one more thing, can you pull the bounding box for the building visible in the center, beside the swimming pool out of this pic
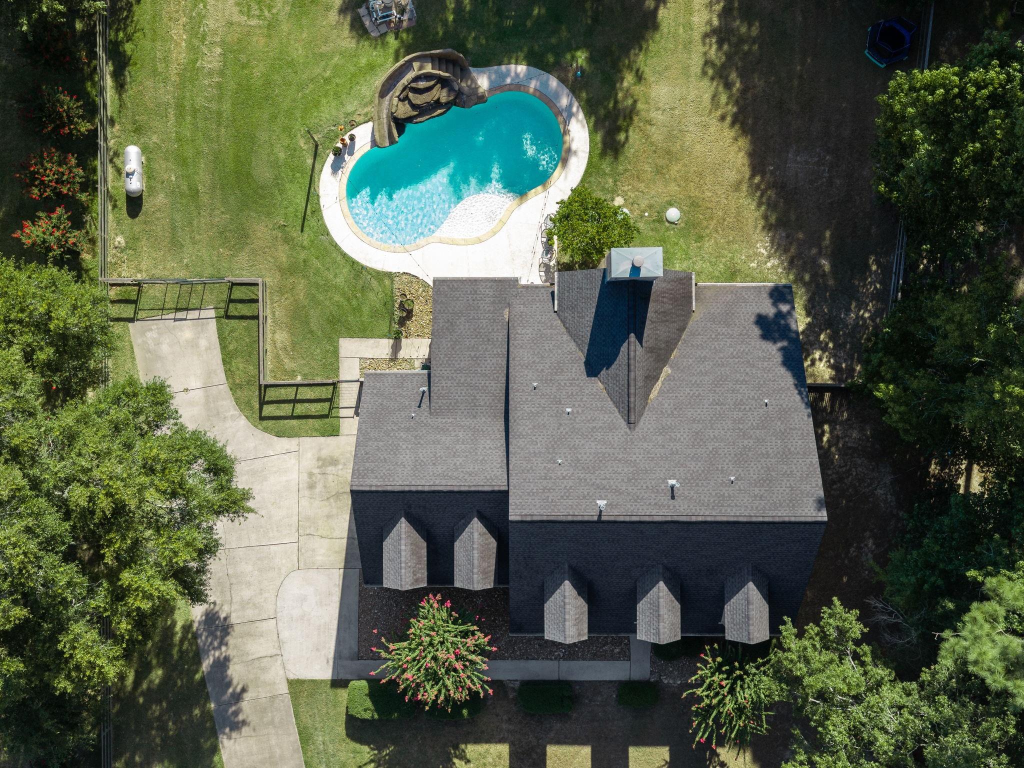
[351,248,827,643]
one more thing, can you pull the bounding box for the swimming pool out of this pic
[339,85,570,252]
